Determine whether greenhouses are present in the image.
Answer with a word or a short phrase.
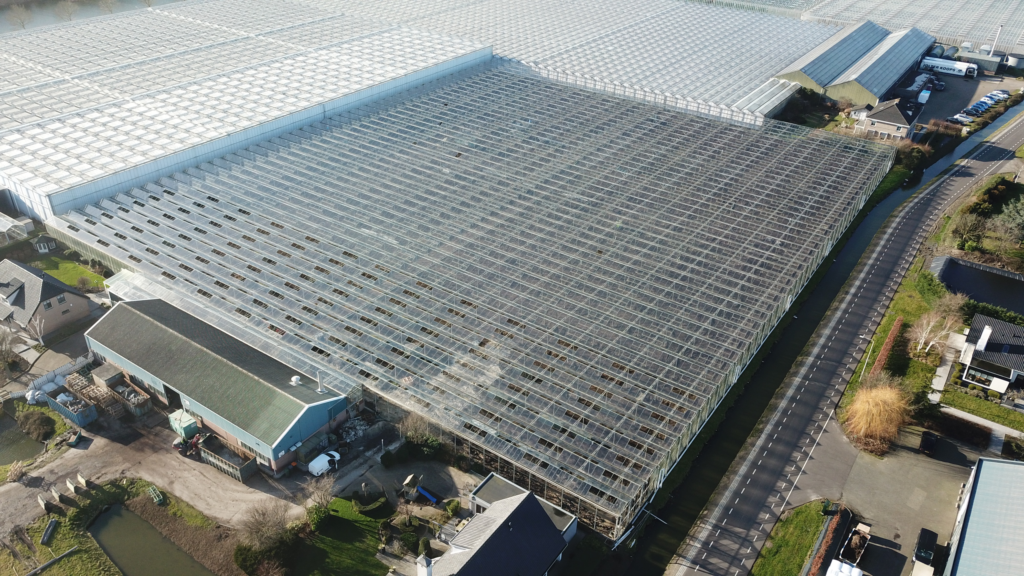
Yes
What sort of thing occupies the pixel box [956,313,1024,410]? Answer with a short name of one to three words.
house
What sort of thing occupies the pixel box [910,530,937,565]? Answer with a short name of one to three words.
vehicle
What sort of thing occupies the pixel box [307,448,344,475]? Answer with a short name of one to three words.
vehicle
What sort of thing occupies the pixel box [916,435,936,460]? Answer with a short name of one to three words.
car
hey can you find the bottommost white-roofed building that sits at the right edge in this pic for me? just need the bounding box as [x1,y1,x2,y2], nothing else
[943,455,1024,576]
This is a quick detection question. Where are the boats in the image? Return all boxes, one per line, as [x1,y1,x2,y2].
[40,517,54,544]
